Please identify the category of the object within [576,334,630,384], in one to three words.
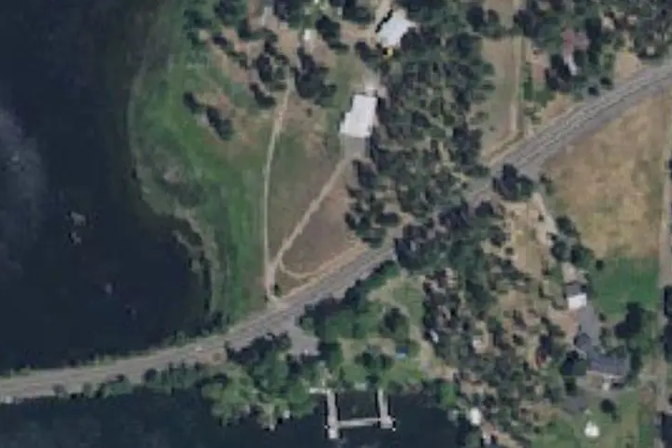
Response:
house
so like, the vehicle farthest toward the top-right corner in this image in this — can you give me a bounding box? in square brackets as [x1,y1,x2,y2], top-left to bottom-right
[565,56,578,74]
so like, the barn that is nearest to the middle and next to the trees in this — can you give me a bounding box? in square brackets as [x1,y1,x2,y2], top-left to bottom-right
[338,91,380,140]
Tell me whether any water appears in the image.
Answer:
Yes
